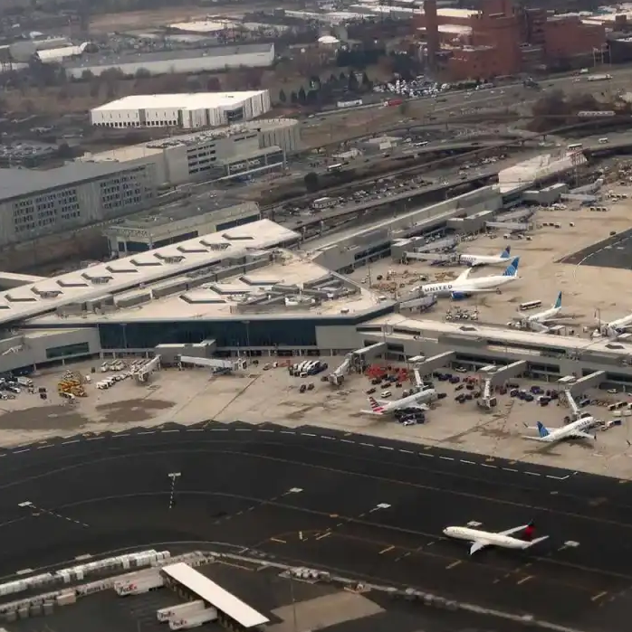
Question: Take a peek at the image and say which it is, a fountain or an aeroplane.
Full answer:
Of the two, only an aeroplane appears.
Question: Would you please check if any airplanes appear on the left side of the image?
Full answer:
No, there's no airplane to be seen on the left side of the image.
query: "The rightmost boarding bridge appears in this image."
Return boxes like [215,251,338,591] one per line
[603,322,632,343]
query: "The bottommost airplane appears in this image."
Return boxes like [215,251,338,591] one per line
[442,516,545,555]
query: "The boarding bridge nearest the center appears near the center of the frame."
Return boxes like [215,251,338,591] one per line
[328,337,386,385]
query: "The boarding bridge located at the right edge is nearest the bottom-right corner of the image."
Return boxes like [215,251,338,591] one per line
[557,366,605,420]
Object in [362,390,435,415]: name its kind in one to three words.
airplane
